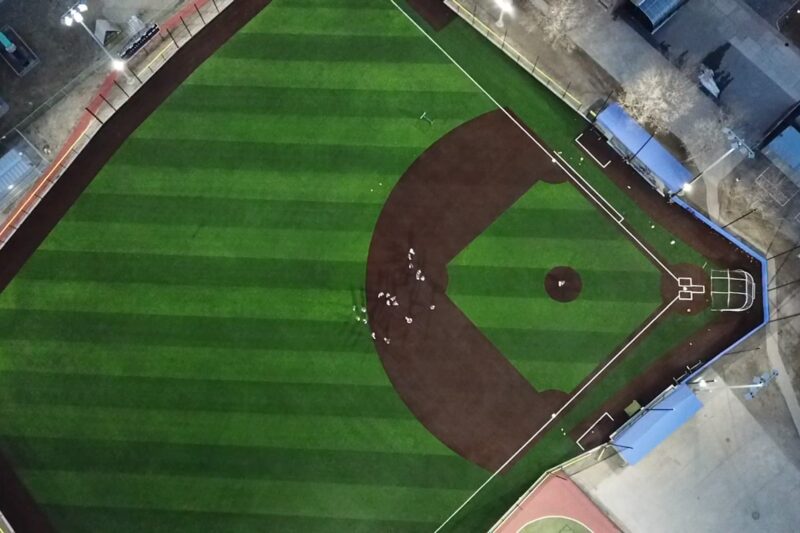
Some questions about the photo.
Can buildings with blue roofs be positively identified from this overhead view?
Yes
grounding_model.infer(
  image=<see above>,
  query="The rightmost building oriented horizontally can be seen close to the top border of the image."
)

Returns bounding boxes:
[605,0,698,44]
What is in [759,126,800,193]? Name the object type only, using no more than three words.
building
